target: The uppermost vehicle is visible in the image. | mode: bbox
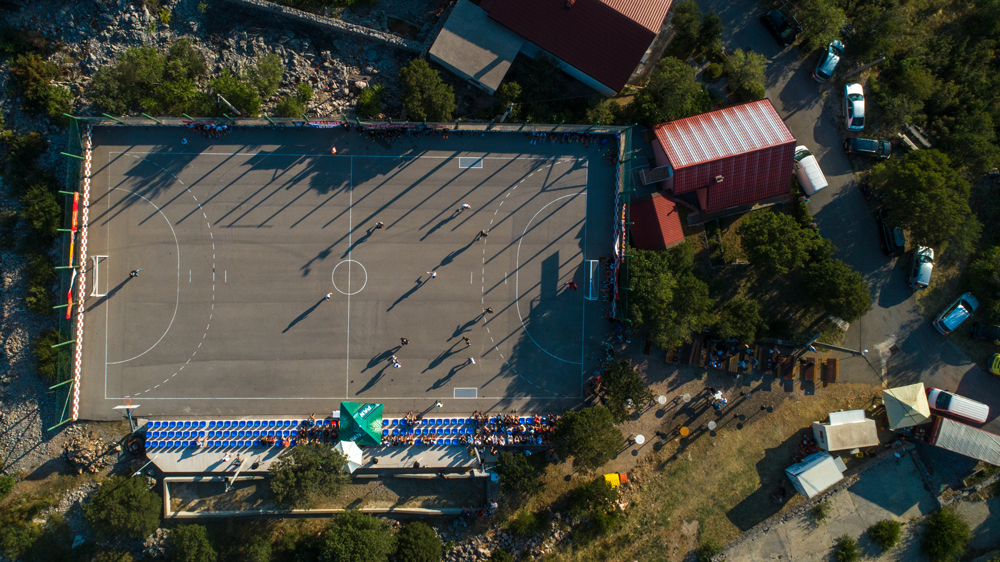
[758,3,801,54]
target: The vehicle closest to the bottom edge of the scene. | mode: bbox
[925,385,996,425]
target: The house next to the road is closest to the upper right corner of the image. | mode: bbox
[651,99,796,212]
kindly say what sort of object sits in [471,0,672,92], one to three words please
house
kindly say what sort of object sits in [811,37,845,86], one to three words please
car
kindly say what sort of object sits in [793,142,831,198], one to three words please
van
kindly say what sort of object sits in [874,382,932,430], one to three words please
gazebo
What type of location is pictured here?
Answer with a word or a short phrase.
sports ground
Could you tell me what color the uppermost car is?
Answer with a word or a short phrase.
black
